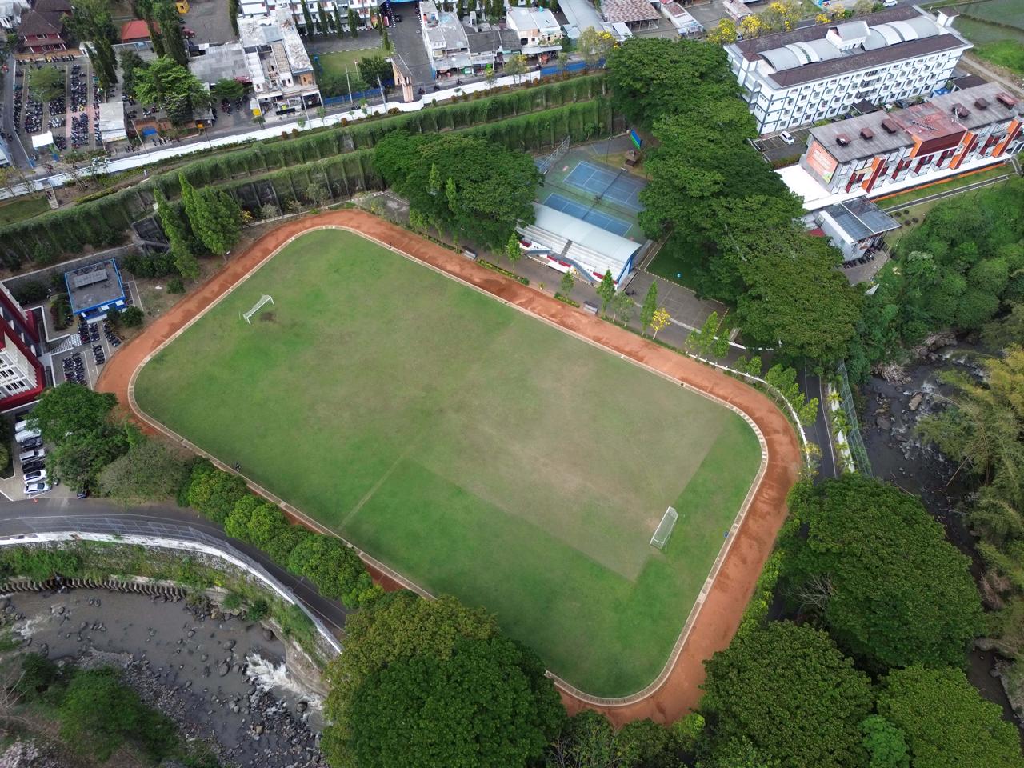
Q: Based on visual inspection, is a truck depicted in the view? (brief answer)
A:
No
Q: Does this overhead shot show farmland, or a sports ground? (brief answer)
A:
sports ground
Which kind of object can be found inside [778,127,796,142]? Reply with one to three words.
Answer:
car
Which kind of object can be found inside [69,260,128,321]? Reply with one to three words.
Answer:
house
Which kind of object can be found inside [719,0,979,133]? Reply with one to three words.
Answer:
building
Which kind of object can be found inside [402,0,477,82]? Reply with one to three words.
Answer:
building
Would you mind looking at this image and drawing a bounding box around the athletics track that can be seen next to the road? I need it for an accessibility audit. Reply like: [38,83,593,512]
[97,210,800,736]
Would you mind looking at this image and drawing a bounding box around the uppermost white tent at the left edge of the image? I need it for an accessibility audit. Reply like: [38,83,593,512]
[32,132,55,154]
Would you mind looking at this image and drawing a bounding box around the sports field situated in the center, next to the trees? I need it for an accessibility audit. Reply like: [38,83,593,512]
[132,228,761,697]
